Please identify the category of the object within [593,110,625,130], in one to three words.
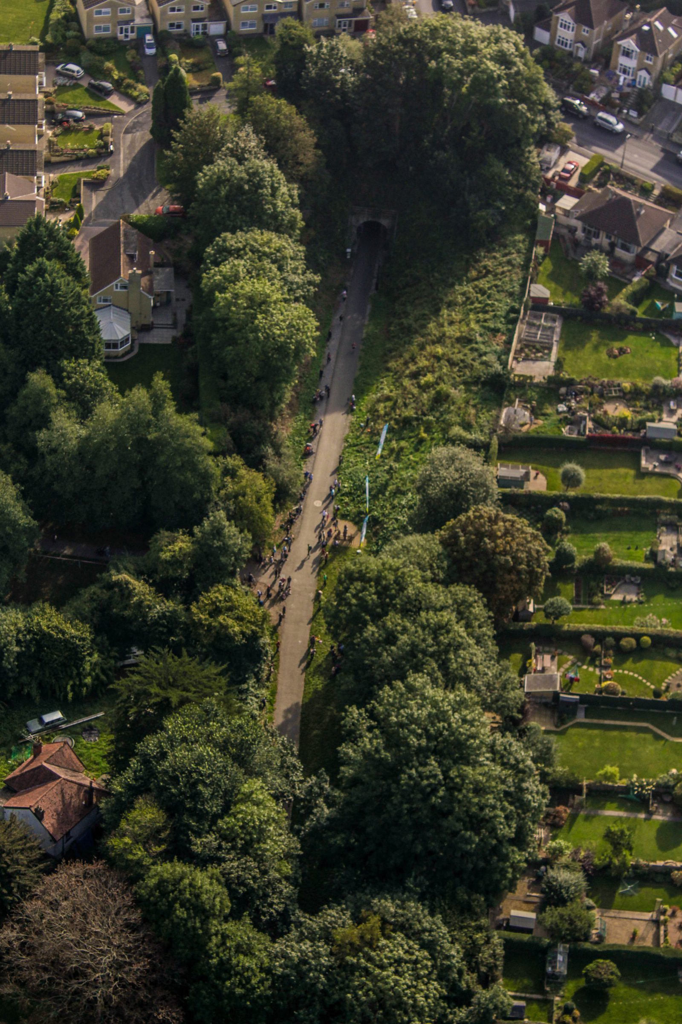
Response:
car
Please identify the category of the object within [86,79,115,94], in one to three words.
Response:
car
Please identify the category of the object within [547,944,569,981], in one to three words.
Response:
greenhouse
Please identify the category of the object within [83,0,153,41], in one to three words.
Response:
house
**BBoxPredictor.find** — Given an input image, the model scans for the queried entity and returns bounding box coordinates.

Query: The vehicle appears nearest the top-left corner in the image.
[55,62,84,77]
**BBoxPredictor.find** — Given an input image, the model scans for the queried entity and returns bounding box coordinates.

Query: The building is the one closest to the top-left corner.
[0,45,46,97]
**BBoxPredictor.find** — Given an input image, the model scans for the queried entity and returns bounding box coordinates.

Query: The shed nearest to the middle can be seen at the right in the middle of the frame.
[497,465,531,491]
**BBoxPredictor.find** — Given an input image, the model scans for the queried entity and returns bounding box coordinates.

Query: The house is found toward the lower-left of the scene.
[3,727,107,872]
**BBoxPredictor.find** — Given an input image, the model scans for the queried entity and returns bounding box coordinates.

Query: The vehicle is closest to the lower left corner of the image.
[26,704,68,728]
